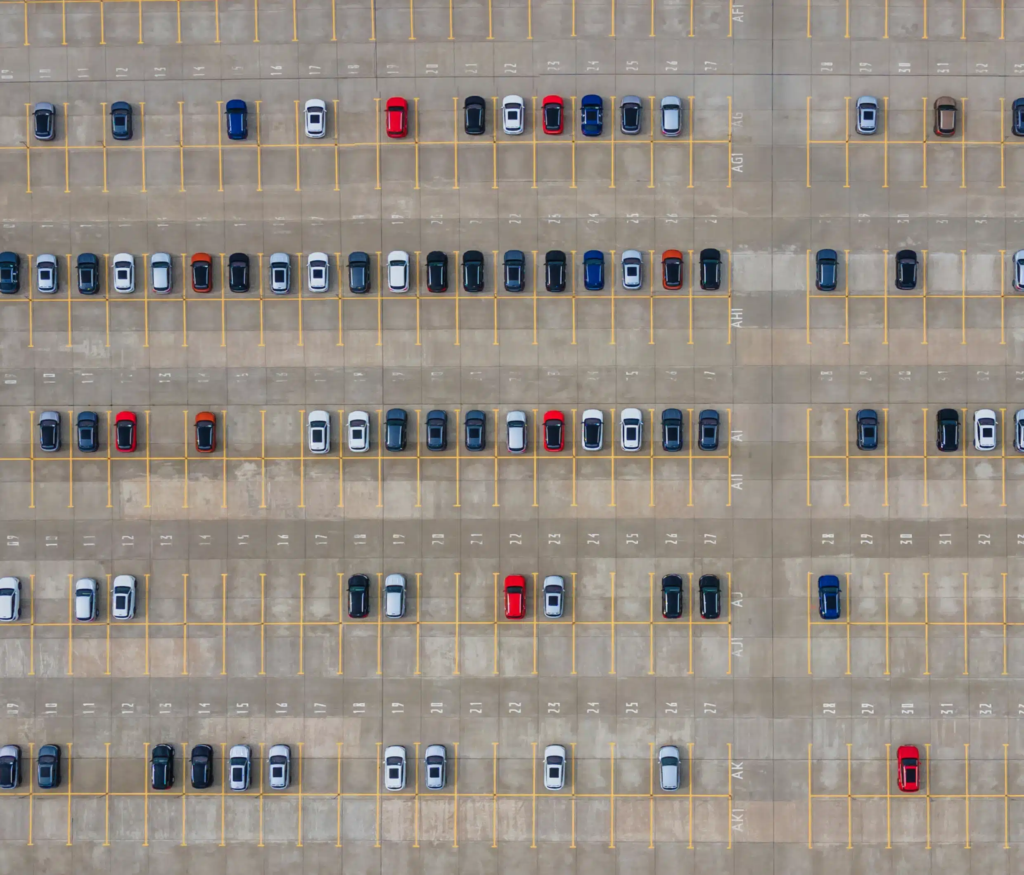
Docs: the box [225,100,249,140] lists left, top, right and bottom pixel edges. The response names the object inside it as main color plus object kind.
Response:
blue car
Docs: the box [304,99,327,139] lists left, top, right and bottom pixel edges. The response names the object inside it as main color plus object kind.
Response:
white car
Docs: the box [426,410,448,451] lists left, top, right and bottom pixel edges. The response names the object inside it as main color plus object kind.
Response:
blue car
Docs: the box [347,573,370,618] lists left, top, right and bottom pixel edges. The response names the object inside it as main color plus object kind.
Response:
black car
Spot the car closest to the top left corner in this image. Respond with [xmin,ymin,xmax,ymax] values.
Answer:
[32,103,57,141]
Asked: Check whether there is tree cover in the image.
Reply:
No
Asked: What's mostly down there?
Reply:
paved ground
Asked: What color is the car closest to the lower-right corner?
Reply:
red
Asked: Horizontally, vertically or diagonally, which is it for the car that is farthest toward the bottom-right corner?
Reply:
vertically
